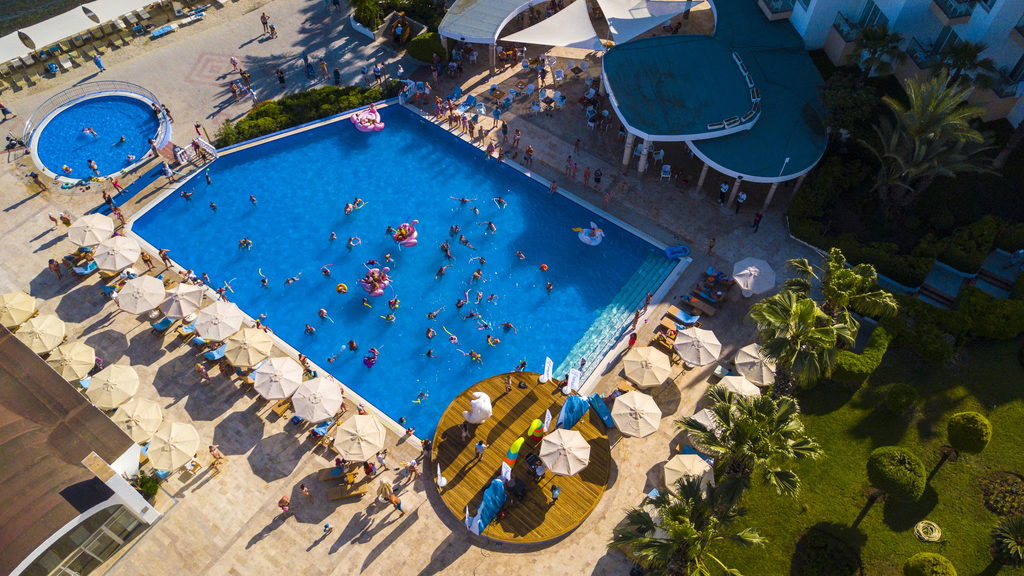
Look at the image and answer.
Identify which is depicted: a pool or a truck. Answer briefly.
pool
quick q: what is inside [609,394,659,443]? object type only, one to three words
umbrella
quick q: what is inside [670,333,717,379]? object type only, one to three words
umbrella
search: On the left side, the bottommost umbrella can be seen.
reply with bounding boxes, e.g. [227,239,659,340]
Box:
[368,474,392,506]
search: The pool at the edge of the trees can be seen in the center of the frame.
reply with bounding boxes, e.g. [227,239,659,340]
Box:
[132,104,680,437]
